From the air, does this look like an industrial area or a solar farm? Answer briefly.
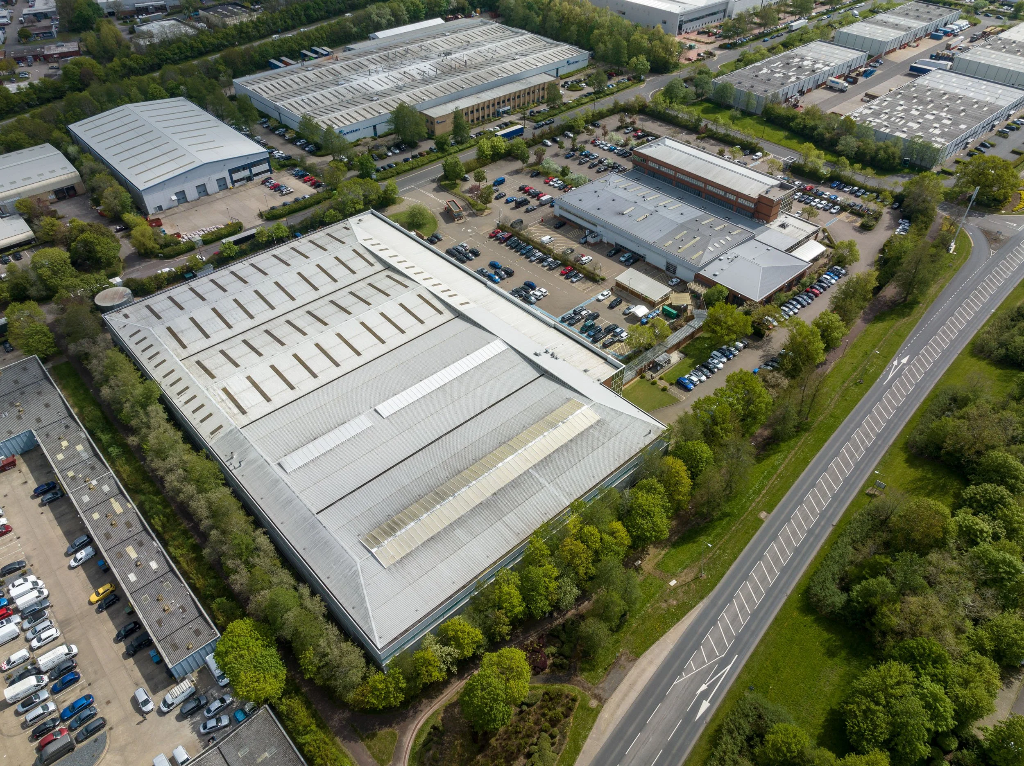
industrial area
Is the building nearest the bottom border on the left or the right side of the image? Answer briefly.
left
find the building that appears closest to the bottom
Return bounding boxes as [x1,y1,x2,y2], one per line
[186,706,306,766]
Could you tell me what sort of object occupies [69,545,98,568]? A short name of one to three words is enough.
vehicle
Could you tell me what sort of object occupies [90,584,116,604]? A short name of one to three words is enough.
car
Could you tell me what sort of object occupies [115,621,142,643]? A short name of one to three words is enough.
car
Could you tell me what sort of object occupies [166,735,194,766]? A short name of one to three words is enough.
van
